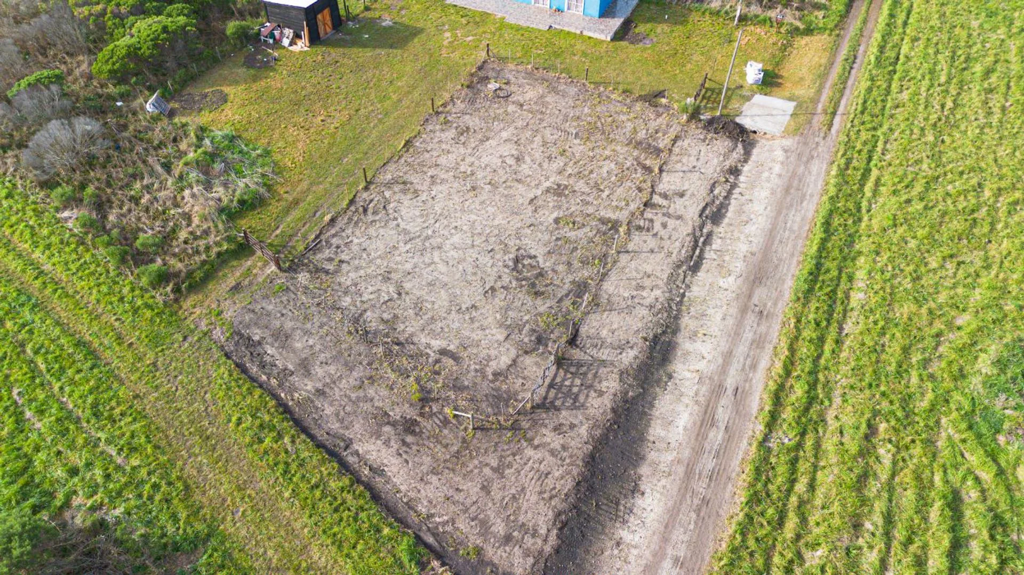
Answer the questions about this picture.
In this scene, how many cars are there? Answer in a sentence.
No cars are visible.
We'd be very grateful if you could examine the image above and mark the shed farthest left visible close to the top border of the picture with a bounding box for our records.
[270,0,341,43]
